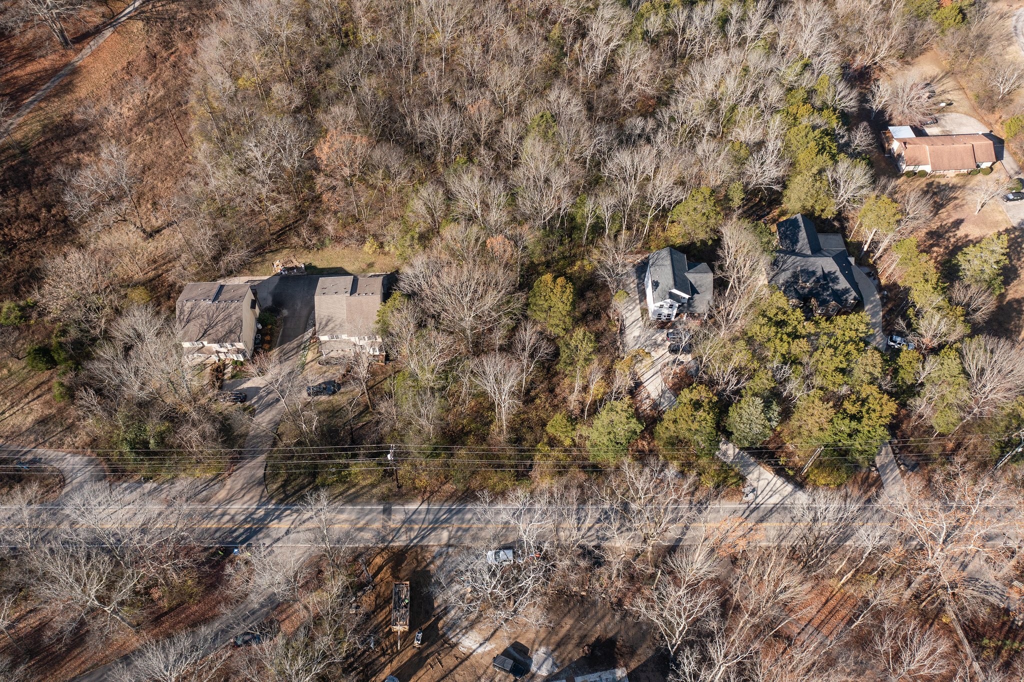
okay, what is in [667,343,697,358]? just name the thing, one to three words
car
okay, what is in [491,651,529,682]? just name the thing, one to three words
car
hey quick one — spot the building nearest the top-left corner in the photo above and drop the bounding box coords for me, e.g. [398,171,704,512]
[175,277,269,373]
